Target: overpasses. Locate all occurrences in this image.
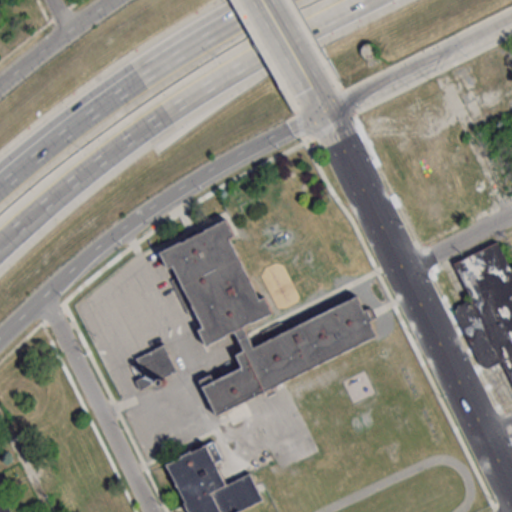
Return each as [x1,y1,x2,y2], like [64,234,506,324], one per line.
[232,0,344,114]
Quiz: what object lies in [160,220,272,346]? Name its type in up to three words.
building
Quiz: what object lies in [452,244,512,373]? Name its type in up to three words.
building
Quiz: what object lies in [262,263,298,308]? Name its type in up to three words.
sports court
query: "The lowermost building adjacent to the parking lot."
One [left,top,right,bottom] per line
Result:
[167,434,262,512]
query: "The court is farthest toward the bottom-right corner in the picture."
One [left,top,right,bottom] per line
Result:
[344,371,376,404]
